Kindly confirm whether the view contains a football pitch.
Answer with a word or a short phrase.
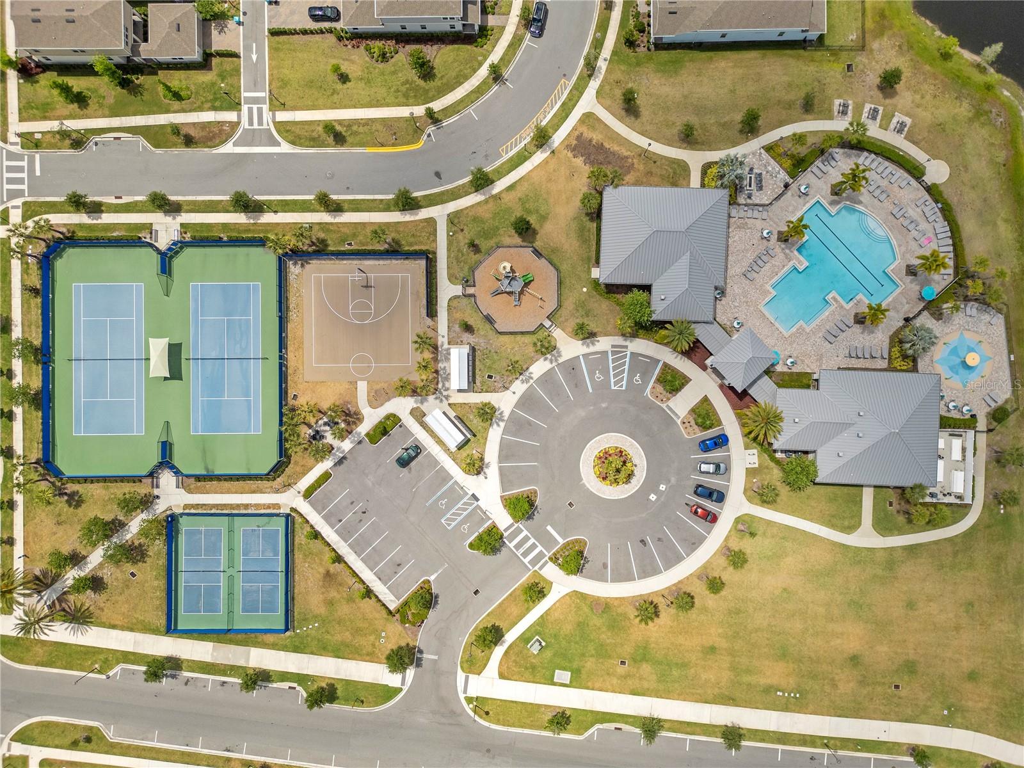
No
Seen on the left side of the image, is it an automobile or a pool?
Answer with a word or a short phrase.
automobile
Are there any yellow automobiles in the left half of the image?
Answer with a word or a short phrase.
No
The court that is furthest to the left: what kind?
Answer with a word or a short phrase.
tennis court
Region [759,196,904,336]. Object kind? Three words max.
swimming pool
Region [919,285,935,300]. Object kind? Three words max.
umbrella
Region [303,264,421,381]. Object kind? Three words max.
basketball court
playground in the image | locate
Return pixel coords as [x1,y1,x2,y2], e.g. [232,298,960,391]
[463,246,558,332]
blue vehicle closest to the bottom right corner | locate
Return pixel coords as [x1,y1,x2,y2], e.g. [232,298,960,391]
[693,484,726,503]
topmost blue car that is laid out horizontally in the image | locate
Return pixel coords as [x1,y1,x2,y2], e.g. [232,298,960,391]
[698,435,729,452]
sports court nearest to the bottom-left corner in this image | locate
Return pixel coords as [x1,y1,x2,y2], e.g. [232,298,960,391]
[177,528,226,614]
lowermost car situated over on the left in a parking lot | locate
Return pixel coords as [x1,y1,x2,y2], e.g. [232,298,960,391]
[394,443,422,469]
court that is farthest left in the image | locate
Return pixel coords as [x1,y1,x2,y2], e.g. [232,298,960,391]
[67,284,144,435]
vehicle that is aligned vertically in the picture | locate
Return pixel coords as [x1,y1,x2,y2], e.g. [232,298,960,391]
[530,1,548,37]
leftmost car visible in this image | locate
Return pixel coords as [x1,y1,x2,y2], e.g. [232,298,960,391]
[308,3,339,20]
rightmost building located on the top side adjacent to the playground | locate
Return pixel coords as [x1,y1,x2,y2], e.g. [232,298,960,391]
[591,186,727,322]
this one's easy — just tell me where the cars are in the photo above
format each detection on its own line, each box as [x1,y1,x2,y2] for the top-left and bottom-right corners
[530,1,548,37]
[394,443,422,469]
[308,3,339,20]
[689,503,718,524]
[698,435,729,452]
[693,484,726,503]
[697,462,728,477]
